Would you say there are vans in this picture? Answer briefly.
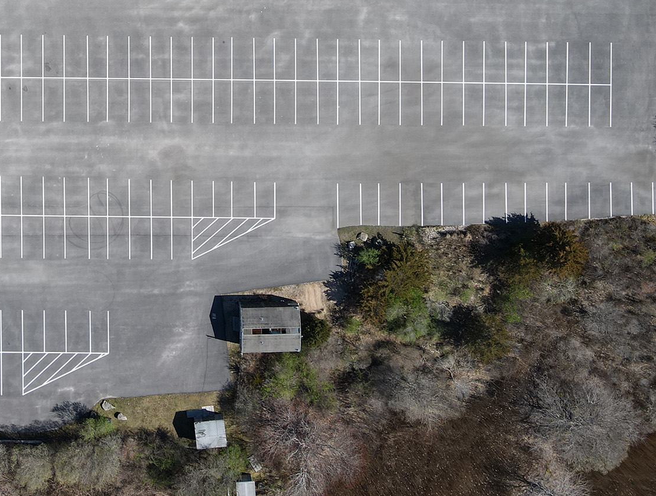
No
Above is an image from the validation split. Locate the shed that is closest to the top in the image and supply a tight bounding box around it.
[240,301,302,363]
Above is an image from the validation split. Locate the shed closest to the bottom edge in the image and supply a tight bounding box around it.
[234,471,256,496]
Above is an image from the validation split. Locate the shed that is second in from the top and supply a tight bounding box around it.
[194,401,226,449]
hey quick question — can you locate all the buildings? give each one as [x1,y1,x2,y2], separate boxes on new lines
[240,301,302,363]
[234,471,256,496]
[194,401,226,449]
